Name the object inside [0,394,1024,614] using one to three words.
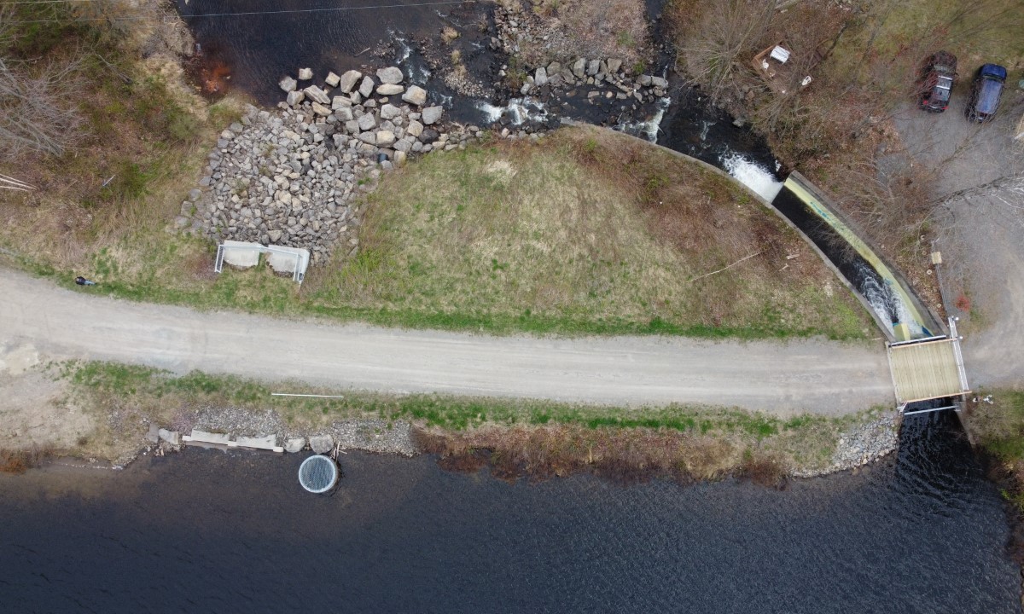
pond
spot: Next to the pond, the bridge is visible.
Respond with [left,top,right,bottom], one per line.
[889,336,969,405]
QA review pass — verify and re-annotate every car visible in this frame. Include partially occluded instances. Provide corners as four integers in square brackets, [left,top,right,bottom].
[917,51,956,116]
[964,62,1007,128]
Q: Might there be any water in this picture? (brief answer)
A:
Yes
